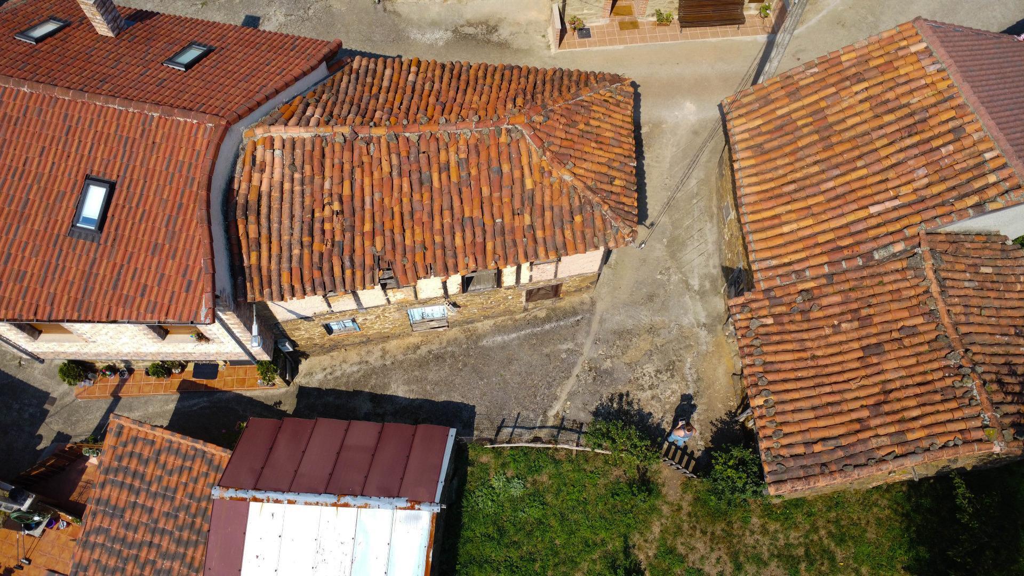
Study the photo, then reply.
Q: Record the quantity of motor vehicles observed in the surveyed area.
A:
none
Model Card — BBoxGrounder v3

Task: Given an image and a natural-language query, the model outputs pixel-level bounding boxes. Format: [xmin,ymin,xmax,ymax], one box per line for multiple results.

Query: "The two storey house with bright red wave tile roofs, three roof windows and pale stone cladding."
[0,0,344,368]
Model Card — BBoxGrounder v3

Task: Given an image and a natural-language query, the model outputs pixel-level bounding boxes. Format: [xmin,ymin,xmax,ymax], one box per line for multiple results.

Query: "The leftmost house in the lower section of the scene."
[63,408,240,576]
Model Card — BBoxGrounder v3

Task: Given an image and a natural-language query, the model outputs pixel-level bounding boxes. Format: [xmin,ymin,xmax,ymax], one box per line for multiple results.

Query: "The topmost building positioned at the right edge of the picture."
[714,12,1024,300]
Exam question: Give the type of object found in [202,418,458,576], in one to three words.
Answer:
shed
